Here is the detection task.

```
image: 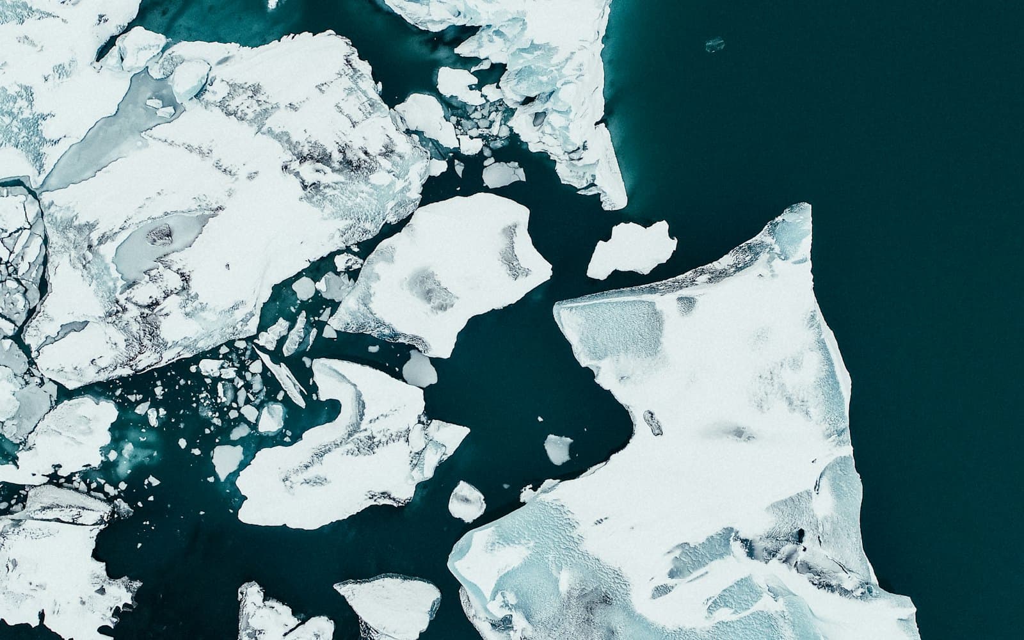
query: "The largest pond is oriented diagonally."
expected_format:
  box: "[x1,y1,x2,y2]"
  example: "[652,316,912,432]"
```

[110,212,217,291]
